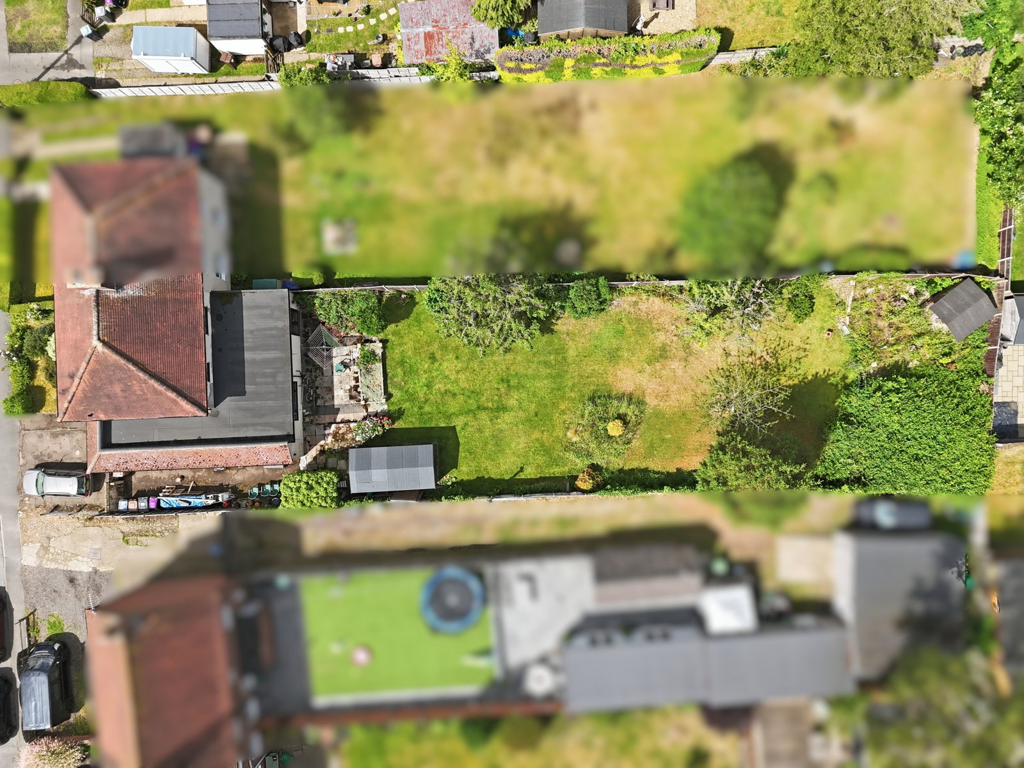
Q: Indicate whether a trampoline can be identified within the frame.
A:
Yes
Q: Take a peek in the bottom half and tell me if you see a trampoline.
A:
Yes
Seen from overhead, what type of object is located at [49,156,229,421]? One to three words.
house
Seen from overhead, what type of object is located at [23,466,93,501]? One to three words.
car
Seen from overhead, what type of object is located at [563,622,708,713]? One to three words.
shed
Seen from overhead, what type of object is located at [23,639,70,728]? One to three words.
car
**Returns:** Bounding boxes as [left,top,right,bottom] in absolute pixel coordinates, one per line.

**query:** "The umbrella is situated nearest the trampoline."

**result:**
[524,659,553,692]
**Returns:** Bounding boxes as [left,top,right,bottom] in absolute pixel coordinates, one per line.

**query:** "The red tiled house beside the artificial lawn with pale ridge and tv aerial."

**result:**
[84,558,261,768]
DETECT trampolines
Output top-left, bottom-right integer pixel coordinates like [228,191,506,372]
[423,569,485,630]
